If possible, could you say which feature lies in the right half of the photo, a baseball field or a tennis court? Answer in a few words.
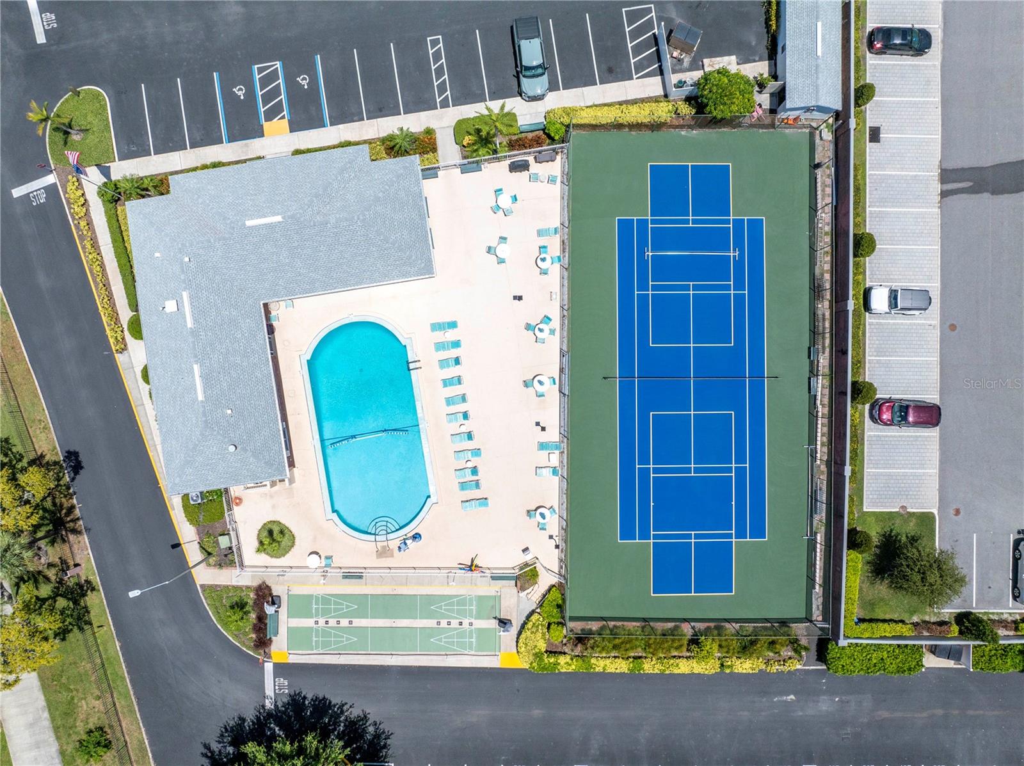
tennis court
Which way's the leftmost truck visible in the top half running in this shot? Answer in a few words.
vertically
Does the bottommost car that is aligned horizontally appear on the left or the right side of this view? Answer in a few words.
right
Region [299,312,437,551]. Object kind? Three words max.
swimming pool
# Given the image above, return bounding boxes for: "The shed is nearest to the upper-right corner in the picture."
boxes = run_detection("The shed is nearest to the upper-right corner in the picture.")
[777,0,842,120]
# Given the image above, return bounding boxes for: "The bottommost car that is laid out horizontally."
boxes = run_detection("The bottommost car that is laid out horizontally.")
[869,397,944,429]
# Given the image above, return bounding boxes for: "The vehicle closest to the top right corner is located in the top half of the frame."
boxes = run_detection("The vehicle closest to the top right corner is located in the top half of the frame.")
[867,23,931,58]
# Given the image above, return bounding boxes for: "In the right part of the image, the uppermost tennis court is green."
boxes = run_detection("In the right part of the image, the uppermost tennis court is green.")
[568,129,817,623]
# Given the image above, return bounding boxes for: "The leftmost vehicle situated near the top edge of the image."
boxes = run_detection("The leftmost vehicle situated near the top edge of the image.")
[515,17,550,103]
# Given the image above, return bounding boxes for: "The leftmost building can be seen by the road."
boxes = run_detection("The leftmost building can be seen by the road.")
[125,144,438,495]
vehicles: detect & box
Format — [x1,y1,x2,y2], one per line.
[1015,541,1024,604]
[867,283,935,315]
[869,397,944,429]
[515,17,550,103]
[867,23,931,58]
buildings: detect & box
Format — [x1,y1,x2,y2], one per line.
[777,0,842,120]
[125,144,438,495]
